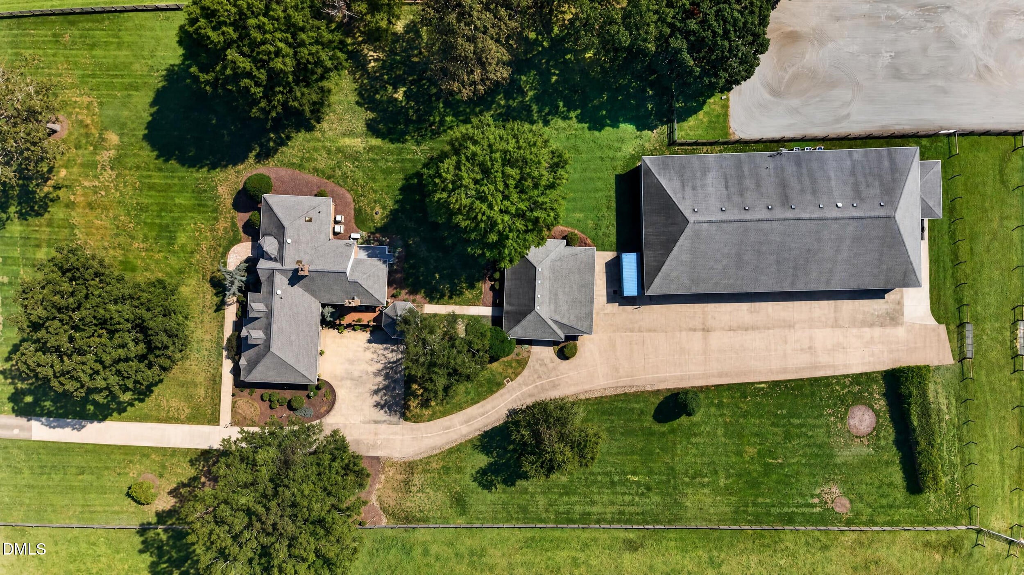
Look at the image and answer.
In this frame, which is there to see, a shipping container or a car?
shipping container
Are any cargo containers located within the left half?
No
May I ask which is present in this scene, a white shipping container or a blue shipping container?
blue shipping container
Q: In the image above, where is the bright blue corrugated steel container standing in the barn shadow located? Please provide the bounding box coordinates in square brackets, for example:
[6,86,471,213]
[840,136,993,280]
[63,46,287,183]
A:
[618,252,645,297]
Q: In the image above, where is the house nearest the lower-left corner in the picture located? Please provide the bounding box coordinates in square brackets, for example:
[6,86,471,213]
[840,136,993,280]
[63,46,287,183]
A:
[239,194,394,384]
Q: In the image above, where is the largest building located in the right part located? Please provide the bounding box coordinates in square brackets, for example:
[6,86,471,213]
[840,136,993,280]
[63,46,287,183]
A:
[639,146,943,295]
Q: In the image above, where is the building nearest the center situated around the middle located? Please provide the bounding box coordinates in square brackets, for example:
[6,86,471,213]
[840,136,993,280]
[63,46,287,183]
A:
[503,239,597,341]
